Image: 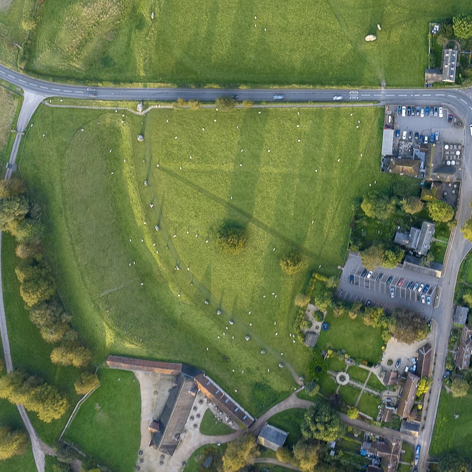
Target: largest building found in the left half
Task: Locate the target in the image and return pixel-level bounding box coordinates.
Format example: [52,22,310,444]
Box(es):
[149,374,200,454]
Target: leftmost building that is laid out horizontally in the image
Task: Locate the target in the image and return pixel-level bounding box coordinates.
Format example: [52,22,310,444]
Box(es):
[105,353,183,375]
